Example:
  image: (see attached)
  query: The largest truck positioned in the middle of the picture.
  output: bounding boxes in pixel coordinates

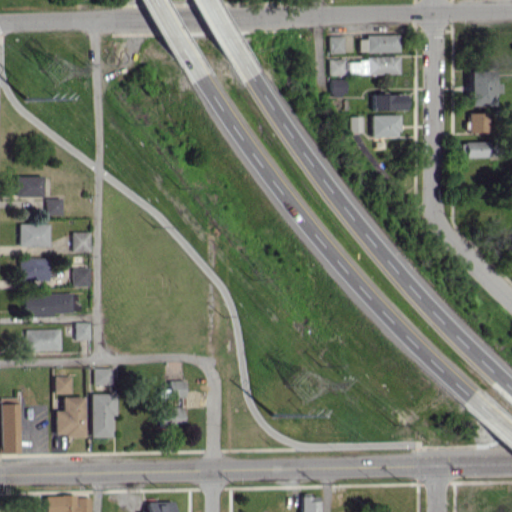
[284,200,306,224]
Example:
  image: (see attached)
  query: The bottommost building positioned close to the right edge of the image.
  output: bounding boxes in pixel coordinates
[463,142,494,159]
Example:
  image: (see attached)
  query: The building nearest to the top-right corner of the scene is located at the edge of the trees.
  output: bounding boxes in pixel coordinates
[470,72,504,109]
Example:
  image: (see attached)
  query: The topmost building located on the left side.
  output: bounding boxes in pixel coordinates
[16,176,47,197]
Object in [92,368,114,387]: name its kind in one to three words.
building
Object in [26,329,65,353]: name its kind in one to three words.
house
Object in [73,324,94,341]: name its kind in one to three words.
building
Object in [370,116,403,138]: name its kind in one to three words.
house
